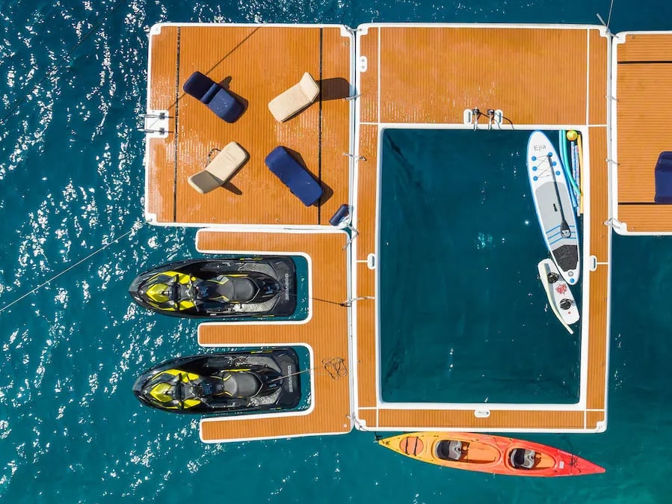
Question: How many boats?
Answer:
3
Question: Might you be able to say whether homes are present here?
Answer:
No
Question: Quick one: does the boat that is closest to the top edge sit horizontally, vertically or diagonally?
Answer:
horizontally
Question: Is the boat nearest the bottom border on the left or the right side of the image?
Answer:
right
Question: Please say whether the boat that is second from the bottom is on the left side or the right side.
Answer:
left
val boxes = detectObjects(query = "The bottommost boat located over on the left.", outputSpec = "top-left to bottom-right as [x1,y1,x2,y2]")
[133,346,305,414]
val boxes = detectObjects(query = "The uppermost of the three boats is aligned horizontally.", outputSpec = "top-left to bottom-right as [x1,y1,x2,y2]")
[130,255,302,318]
